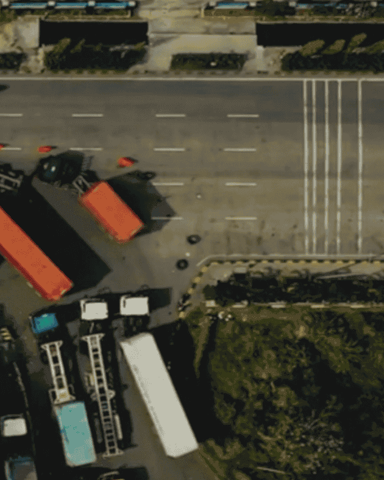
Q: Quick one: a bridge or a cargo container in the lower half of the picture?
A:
cargo container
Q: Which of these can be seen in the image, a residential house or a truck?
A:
truck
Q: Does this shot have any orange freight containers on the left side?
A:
Yes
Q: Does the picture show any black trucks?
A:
Yes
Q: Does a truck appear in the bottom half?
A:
Yes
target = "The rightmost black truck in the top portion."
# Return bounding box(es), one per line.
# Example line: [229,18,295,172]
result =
[34,150,99,197]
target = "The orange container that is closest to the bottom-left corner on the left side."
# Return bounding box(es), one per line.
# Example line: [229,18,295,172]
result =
[0,209,72,301]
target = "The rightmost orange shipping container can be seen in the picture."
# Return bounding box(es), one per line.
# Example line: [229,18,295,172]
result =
[76,181,142,245]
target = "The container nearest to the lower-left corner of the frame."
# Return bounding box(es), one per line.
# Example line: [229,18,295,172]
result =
[51,400,93,466]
